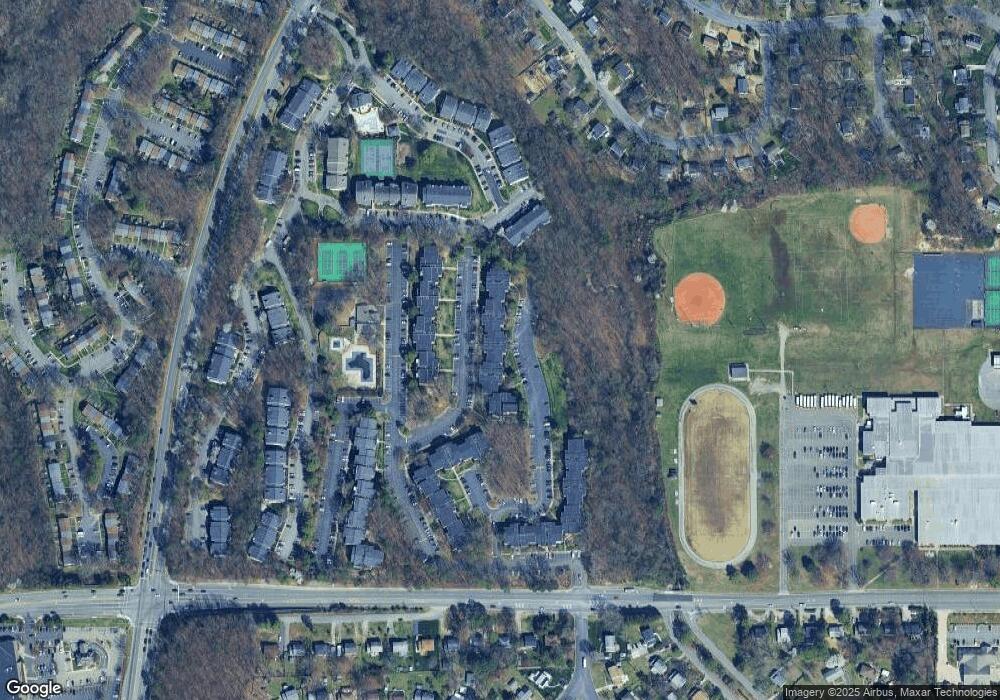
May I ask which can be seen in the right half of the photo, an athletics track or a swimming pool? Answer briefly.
athletics track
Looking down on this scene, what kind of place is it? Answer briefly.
residential area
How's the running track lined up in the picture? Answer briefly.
from top to bottom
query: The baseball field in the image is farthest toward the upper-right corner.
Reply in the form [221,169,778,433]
[850,203,888,244]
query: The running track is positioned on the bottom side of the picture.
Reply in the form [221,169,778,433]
[678,384,758,570]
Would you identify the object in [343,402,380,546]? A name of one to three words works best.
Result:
building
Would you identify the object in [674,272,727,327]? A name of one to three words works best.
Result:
baseball field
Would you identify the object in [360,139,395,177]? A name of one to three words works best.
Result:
tennis court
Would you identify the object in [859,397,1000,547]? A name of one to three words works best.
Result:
building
